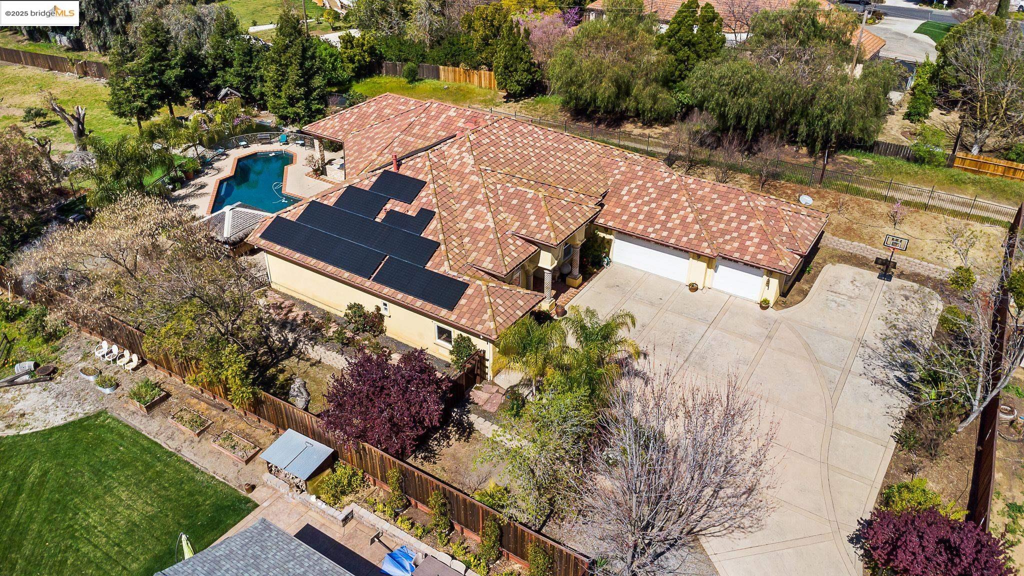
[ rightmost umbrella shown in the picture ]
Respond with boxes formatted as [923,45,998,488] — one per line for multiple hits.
[372,527,419,576]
